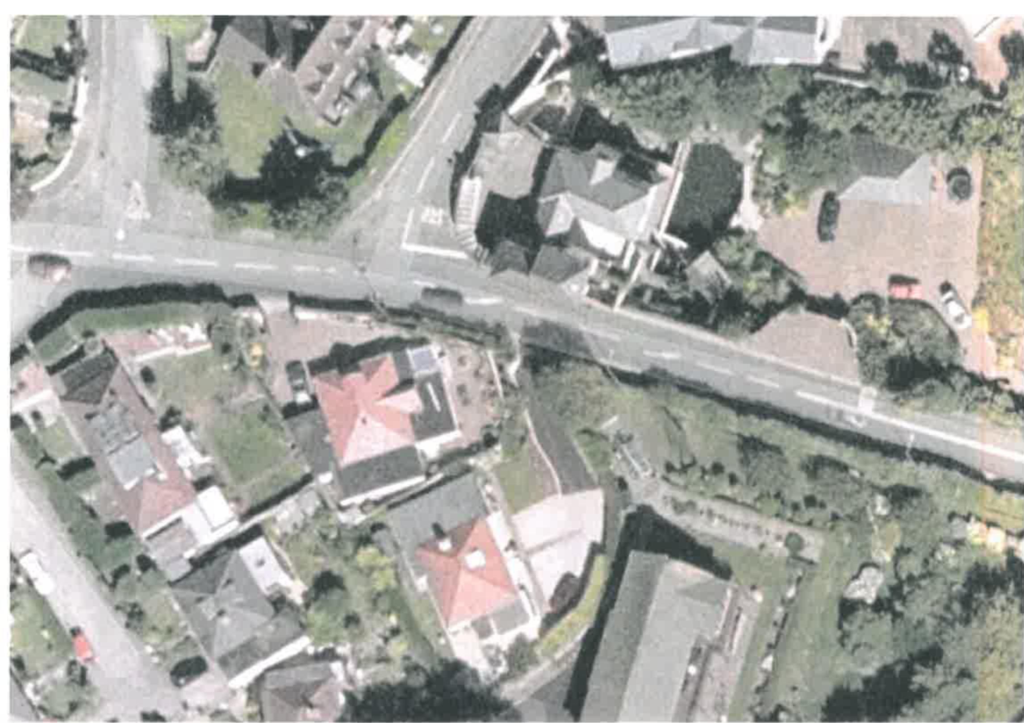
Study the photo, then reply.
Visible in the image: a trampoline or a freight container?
trampoline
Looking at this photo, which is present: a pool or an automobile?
automobile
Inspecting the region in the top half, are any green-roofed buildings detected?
No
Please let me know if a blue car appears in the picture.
No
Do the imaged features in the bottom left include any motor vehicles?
Yes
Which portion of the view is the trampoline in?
top right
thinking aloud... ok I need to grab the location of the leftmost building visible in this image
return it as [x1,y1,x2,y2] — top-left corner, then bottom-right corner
[55,352,212,583]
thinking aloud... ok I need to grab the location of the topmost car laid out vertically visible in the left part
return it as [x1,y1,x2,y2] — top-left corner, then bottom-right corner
[287,362,310,403]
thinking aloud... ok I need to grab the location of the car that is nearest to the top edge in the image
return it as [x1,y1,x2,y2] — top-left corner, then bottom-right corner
[815,196,842,242]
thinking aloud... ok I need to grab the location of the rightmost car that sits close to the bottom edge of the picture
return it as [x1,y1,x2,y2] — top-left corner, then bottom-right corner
[168,658,212,687]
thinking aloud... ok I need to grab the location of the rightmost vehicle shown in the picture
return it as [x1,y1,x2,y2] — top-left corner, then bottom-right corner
[941,287,972,331]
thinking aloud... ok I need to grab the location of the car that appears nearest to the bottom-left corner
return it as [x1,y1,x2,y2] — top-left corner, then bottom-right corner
[70,627,97,668]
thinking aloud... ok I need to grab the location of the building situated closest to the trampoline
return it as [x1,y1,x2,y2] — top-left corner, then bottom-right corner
[837,147,932,204]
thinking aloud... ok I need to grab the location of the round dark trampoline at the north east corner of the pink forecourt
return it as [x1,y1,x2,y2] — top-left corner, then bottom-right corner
[946,171,971,196]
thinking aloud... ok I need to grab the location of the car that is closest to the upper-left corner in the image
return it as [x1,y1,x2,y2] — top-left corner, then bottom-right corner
[30,258,71,282]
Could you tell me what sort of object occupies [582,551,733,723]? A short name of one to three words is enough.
barn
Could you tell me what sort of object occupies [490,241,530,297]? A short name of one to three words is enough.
house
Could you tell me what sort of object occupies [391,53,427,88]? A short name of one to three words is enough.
shed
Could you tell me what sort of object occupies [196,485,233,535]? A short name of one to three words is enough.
building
